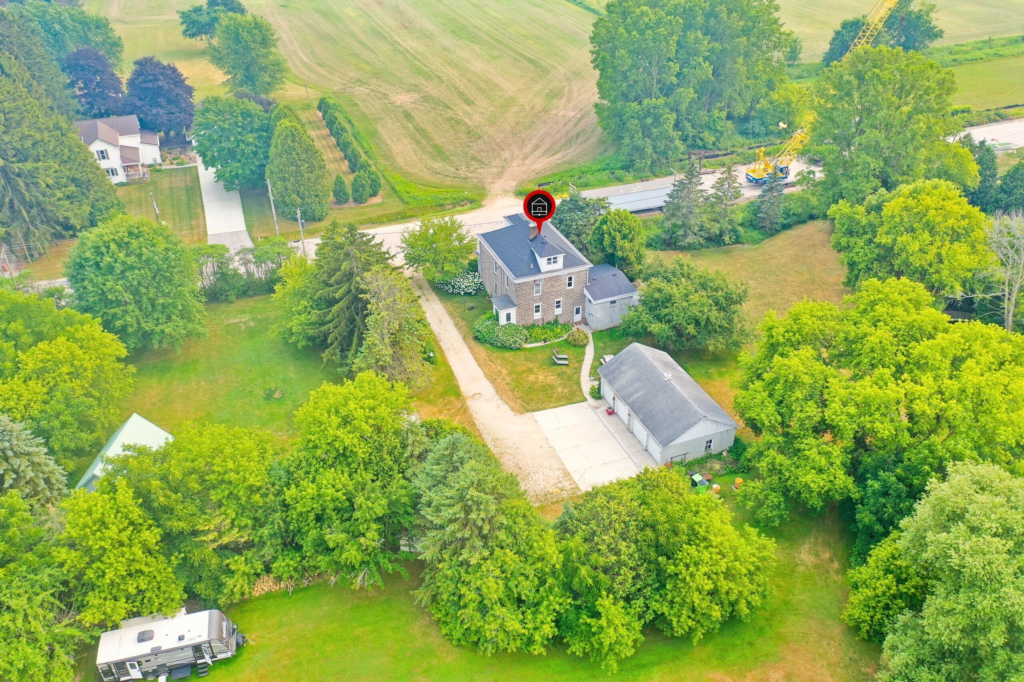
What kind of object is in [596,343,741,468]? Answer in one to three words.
building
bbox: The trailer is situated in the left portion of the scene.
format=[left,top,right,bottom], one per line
[96,607,253,682]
